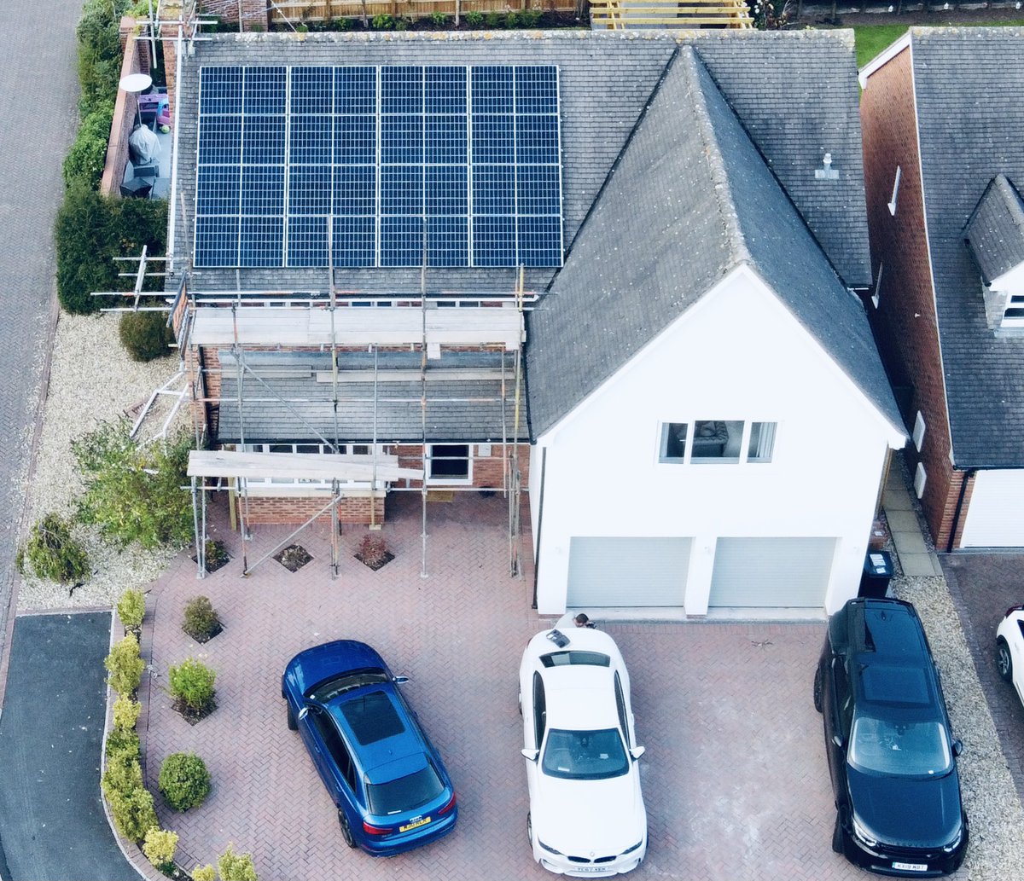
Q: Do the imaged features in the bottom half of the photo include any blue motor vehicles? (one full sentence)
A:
Yes, looking in the bottom half of the photo, one can make out a blue motor vehicle.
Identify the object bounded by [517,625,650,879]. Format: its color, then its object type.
white car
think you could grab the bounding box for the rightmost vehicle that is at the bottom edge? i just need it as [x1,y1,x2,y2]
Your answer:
[809,597,975,873]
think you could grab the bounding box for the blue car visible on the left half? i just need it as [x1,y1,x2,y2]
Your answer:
[281,641,453,857]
